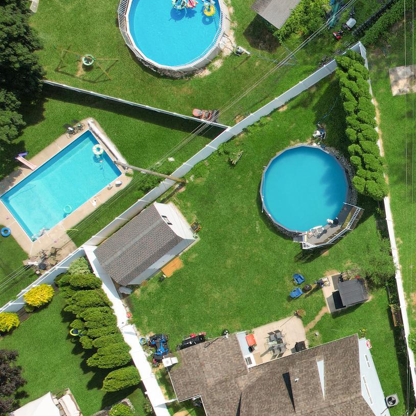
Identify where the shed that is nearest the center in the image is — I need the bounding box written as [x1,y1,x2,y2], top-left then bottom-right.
[94,203,196,287]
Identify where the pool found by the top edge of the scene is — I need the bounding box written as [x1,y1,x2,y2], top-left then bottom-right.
[125,0,232,74]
